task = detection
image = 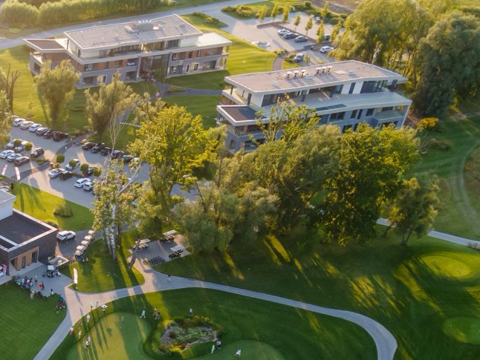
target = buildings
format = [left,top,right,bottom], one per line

[0,191,57,277]
[22,15,230,85]
[216,61,411,146]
